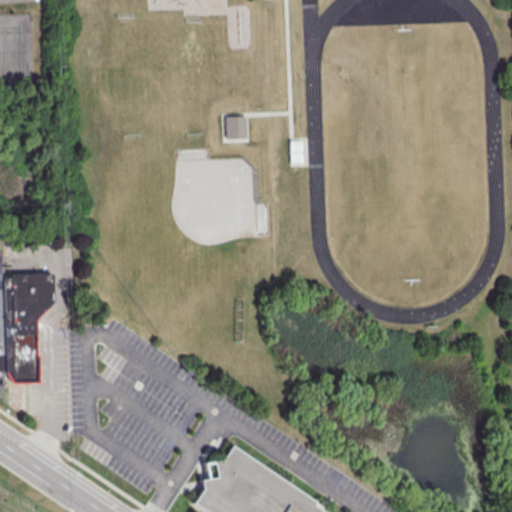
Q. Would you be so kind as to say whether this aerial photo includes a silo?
No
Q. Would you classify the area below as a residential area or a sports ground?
sports ground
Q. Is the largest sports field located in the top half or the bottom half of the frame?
top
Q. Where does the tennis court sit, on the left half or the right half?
left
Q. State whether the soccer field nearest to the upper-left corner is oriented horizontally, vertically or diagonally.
vertically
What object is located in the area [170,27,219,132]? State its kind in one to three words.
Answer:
soccer field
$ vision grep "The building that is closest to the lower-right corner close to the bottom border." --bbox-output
[197,446,330,512]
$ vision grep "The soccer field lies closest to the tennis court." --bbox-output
[104,17,152,134]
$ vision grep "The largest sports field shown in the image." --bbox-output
[323,24,489,309]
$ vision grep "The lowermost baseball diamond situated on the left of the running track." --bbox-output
[173,157,258,245]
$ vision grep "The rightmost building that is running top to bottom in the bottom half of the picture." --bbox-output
[6,272,54,382]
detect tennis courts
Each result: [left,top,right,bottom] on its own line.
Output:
[0,14,32,78]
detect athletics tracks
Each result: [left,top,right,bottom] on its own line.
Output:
[303,0,504,324]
